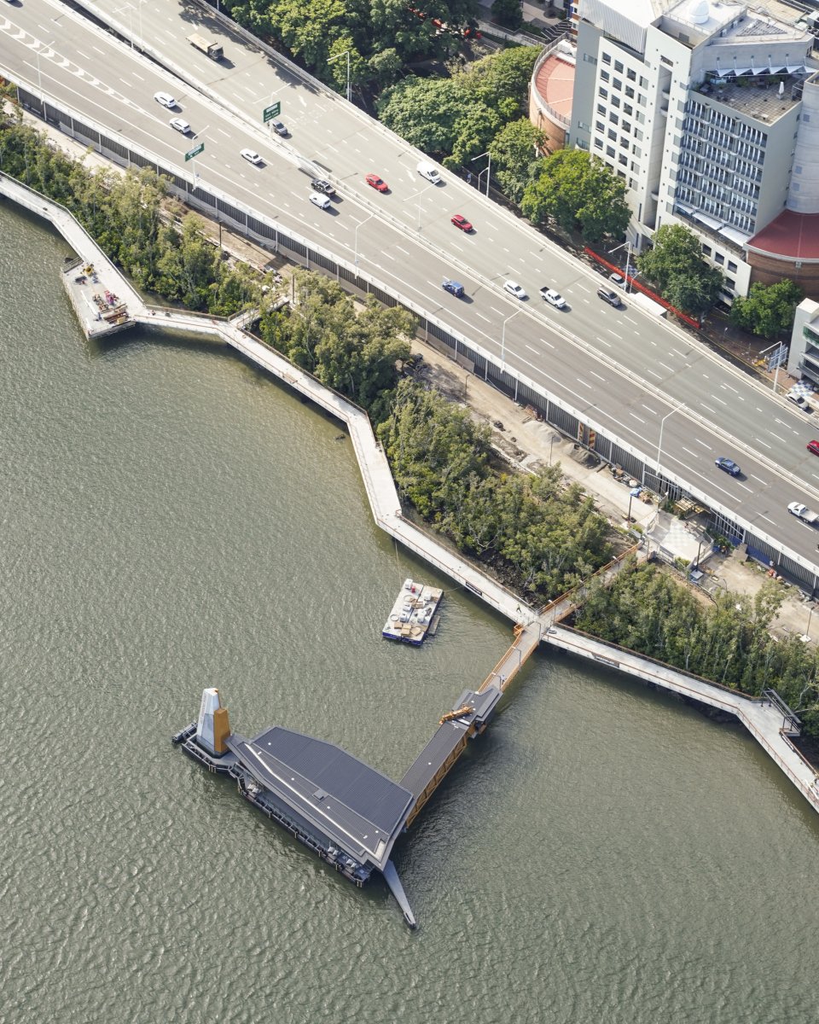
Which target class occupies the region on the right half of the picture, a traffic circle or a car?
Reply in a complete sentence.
What appears on the right half of the picture is a car.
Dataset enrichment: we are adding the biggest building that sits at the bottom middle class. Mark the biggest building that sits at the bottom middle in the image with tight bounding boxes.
[175,685,502,896]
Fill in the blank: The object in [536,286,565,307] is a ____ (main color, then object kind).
white truck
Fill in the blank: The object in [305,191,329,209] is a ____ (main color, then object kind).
white vehicle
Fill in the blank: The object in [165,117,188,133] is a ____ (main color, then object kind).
white car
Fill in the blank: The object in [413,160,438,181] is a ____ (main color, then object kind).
white vehicle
